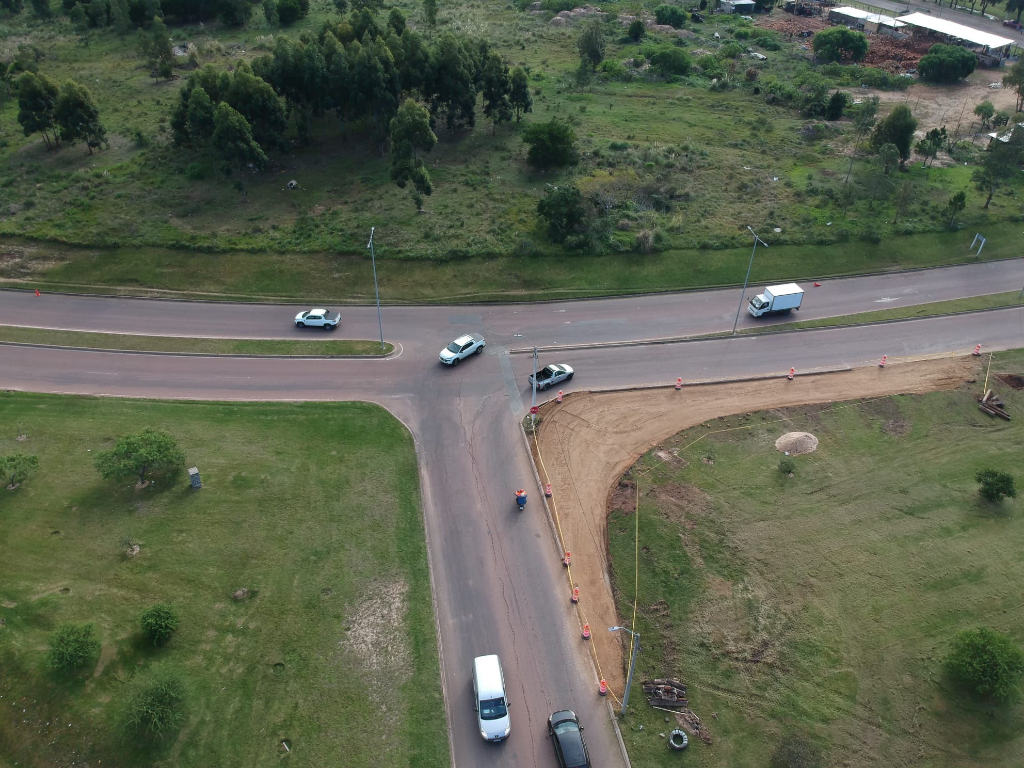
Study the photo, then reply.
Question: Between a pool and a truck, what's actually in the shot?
truck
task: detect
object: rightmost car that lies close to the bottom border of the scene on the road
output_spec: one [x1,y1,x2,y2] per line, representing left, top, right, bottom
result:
[549,710,592,768]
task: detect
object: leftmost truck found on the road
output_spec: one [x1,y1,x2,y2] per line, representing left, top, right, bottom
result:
[294,308,340,330]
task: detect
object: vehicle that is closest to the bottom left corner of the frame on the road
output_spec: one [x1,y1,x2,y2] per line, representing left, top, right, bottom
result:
[471,655,512,743]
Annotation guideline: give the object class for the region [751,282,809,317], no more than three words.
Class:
truck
